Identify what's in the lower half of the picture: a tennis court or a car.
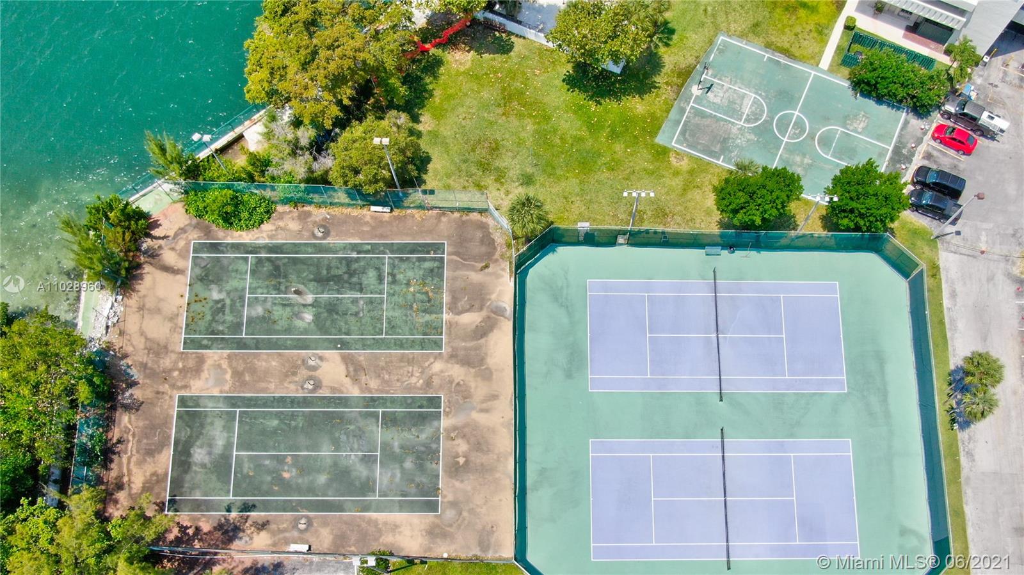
tennis court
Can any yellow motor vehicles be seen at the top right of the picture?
No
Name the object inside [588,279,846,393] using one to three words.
tennis court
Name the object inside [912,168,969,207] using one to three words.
car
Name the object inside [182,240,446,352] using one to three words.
tennis court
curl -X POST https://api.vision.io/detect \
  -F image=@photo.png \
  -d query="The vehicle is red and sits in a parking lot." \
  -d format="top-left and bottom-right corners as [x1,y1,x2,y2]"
[933,125,980,158]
